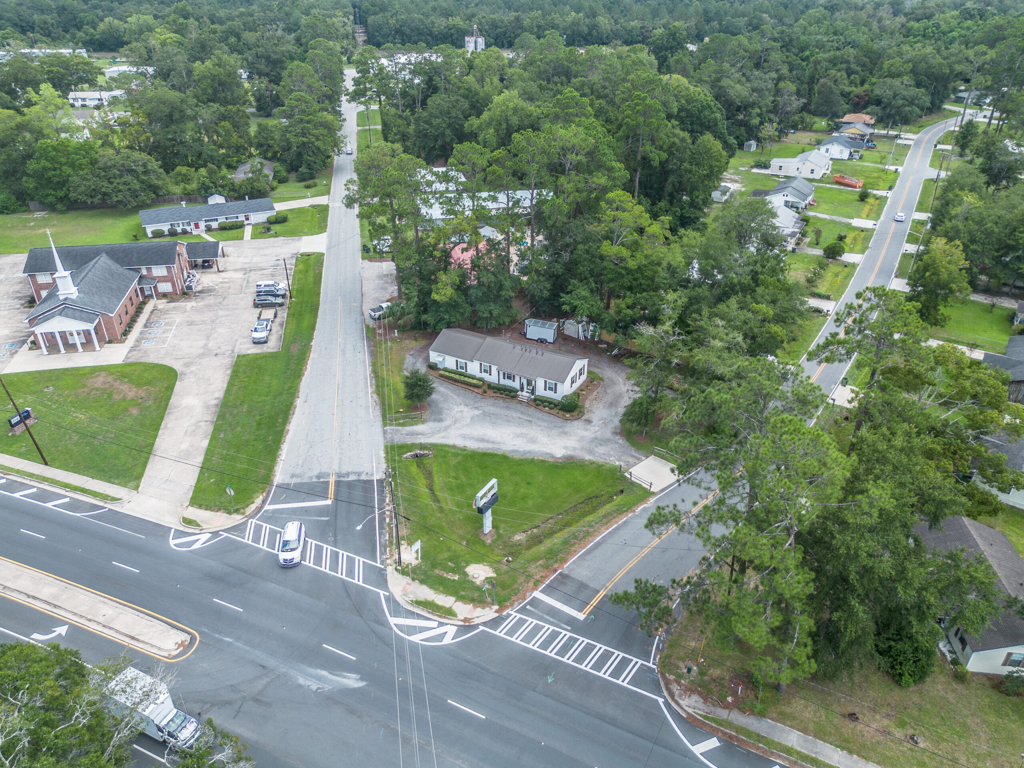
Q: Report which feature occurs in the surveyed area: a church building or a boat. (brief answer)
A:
church building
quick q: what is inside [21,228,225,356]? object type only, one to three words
church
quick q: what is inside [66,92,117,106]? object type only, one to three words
house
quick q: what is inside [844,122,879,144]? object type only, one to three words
house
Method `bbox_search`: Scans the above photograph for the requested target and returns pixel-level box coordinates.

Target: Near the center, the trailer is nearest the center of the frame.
[517,318,558,341]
